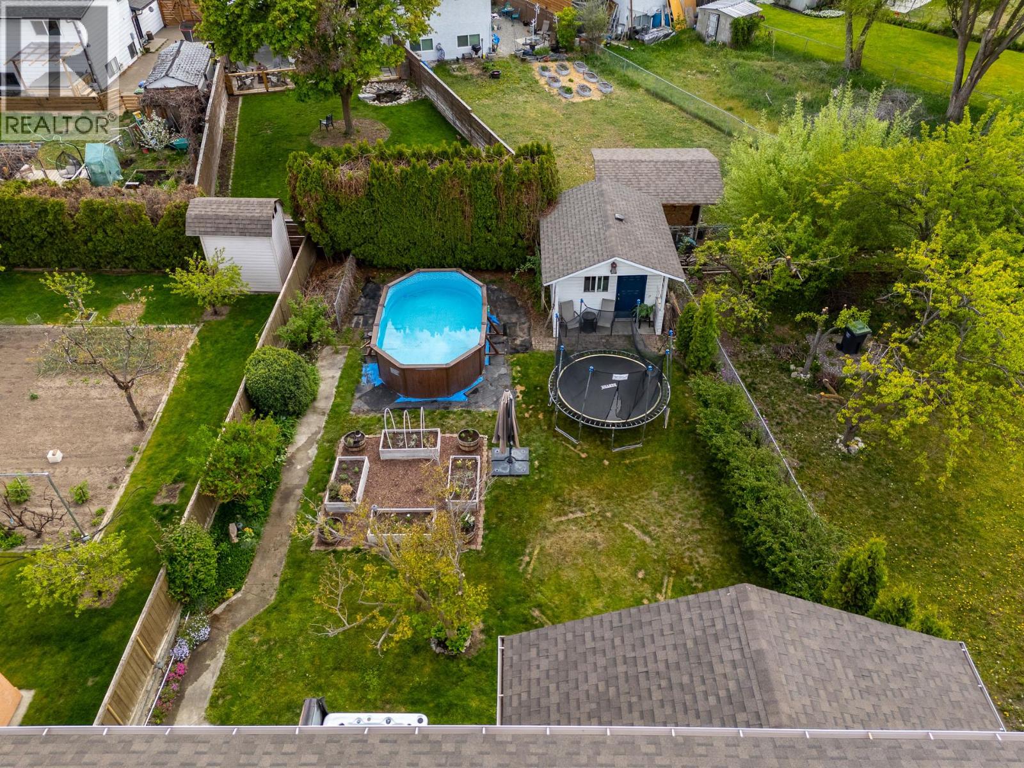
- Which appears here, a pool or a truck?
pool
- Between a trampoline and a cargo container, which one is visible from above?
trampoline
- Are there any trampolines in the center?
Yes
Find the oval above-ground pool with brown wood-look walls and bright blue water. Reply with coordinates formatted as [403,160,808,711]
[350,268,512,397]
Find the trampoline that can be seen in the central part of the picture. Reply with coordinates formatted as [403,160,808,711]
[546,299,673,453]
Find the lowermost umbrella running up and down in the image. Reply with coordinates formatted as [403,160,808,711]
[493,388,529,475]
